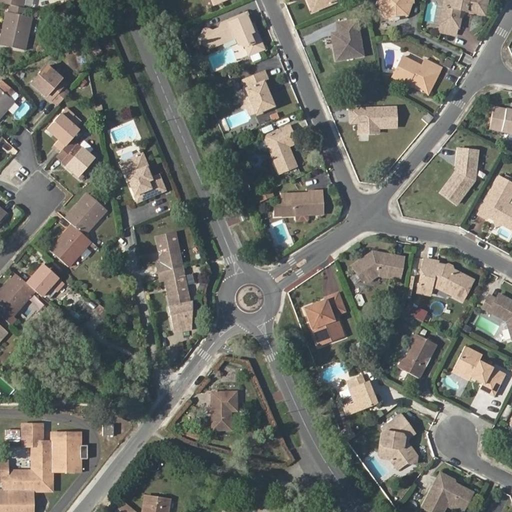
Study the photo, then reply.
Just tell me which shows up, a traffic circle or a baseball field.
traffic circle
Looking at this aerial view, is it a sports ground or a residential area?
residential area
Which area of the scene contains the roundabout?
center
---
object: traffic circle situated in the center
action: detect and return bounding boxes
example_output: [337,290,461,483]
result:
[218,268,281,330]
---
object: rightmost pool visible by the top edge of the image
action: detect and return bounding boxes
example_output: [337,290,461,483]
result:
[424,2,436,23]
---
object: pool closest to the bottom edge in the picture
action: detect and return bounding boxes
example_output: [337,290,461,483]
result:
[367,455,391,478]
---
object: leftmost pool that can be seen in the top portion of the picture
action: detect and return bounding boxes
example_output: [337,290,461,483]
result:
[14,101,30,120]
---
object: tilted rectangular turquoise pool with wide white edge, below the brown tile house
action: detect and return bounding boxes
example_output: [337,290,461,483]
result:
[272,224,290,246]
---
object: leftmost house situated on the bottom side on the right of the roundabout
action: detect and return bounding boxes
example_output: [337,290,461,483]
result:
[302,292,347,348]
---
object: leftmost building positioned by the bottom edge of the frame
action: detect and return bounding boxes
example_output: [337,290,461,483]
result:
[0,423,82,512]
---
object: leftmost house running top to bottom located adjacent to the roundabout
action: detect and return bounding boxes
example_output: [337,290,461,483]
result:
[154,231,194,334]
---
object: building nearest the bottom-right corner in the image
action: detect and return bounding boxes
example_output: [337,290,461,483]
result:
[420,472,476,512]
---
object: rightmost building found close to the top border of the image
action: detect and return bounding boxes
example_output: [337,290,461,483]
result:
[439,0,489,37]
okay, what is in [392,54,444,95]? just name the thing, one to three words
house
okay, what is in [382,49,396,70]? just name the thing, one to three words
swimming pool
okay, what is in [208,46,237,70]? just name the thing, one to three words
swimming pool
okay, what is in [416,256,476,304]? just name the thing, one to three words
house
